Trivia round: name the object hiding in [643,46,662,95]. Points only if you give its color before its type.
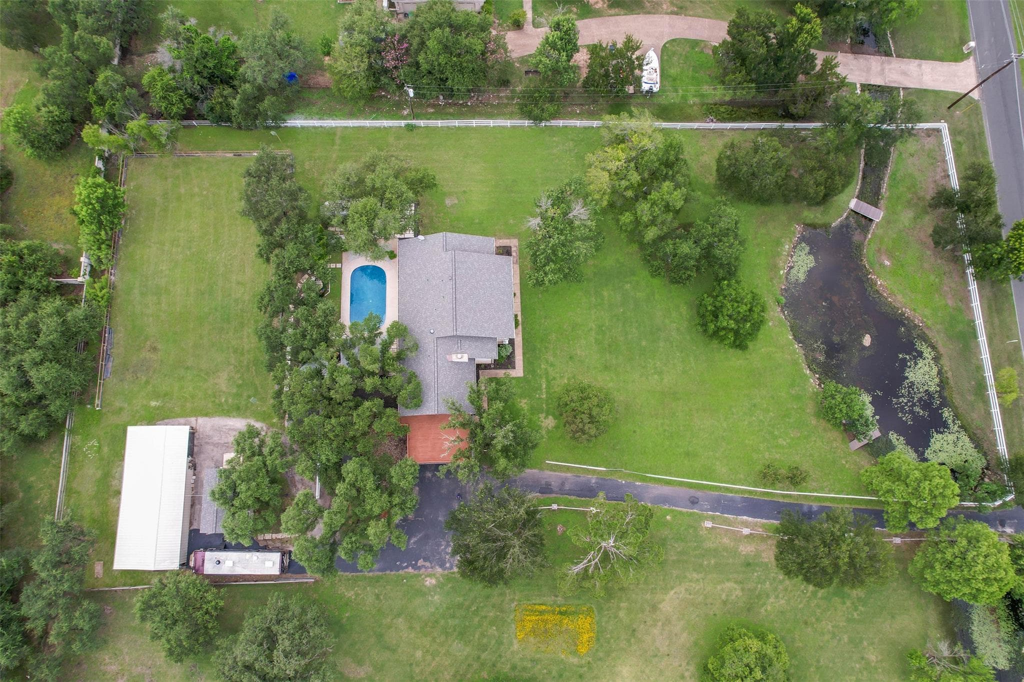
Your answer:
white boat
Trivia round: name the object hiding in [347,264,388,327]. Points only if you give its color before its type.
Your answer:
blue swimming pool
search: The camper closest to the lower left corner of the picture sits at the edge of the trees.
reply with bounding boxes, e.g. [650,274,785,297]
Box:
[192,546,295,576]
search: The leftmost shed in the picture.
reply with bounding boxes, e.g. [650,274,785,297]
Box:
[115,425,200,571]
